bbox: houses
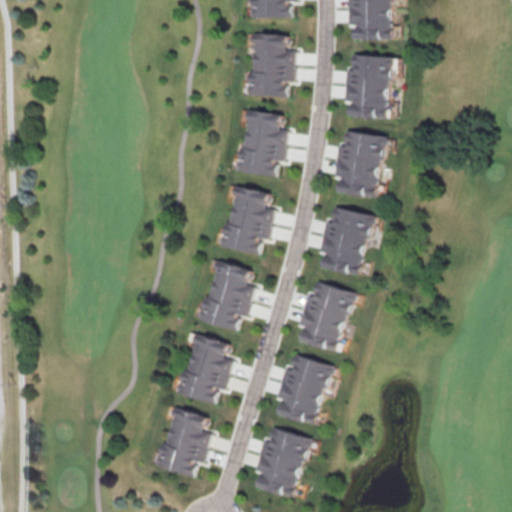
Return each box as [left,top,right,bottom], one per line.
[154,408,222,478]
[248,0,304,20]
[195,260,262,330]
[243,34,304,98]
[174,333,240,405]
[342,56,405,122]
[216,186,283,254]
[254,430,323,500]
[332,131,398,200]
[346,0,408,41]
[318,207,386,277]
[297,282,367,354]
[232,110,296,177]
[276,356,342,426]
